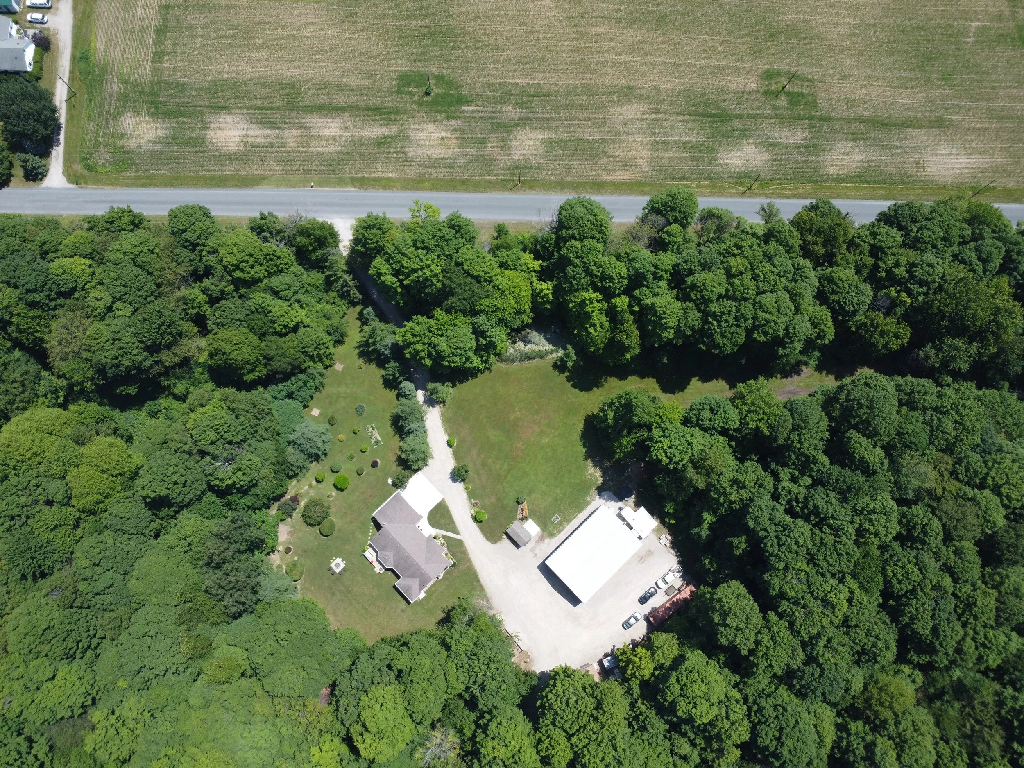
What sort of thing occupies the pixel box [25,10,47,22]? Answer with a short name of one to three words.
vehicle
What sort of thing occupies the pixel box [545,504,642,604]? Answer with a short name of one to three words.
barn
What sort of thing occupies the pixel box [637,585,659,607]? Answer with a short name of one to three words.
car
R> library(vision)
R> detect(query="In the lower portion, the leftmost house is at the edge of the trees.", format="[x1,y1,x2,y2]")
[370,491,454,603]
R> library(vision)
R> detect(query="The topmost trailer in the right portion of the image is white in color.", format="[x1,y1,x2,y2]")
[618,505,658,539]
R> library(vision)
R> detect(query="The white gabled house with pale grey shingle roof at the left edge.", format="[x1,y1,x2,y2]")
[0,16,37,79]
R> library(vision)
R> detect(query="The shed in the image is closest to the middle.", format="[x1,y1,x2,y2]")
[507,521,532,546]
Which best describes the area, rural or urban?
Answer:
rural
